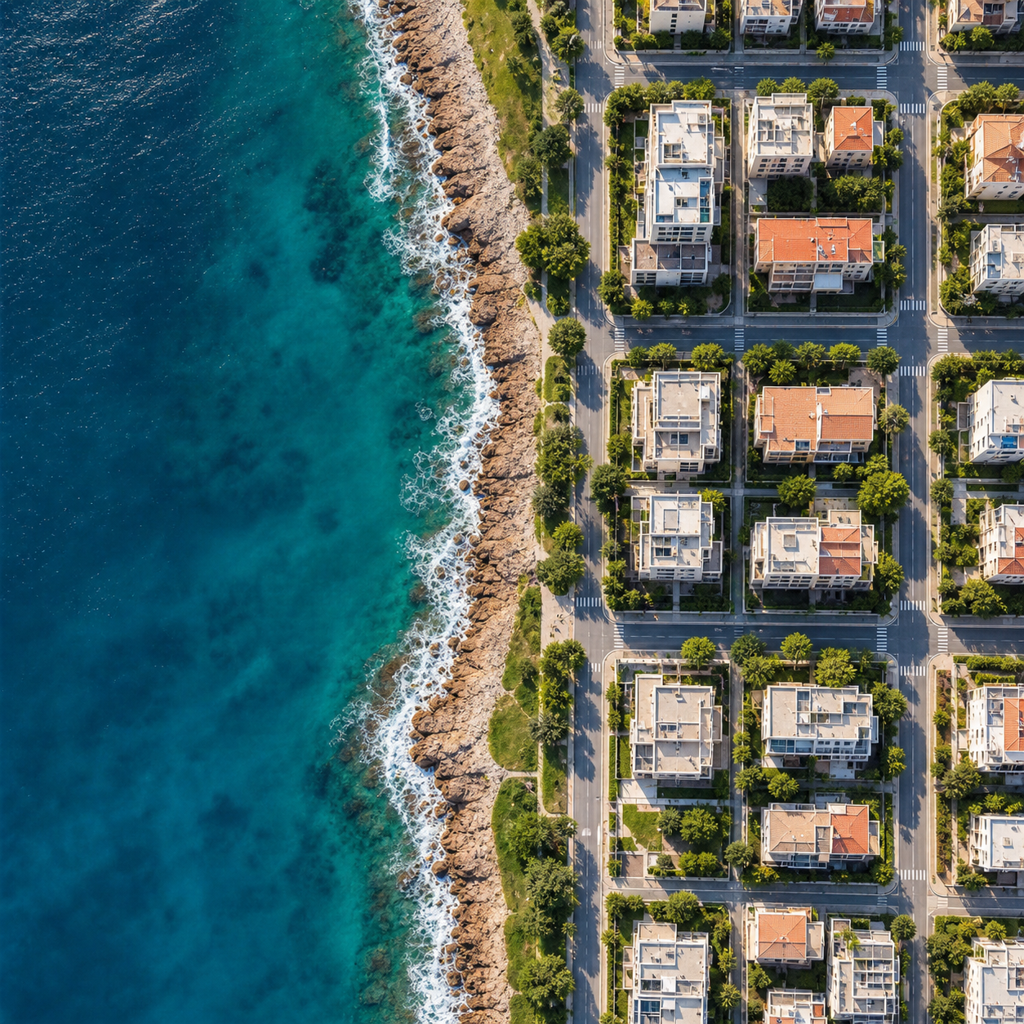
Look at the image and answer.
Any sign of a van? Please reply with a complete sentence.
No, no van is visible in the scene.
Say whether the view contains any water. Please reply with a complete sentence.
Yes, water can be seen from above here.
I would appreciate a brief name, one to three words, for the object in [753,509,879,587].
house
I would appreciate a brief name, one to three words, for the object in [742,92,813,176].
building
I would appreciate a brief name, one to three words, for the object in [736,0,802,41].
house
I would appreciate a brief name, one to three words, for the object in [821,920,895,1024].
building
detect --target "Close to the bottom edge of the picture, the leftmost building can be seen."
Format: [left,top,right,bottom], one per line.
[622,923,709,1024]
